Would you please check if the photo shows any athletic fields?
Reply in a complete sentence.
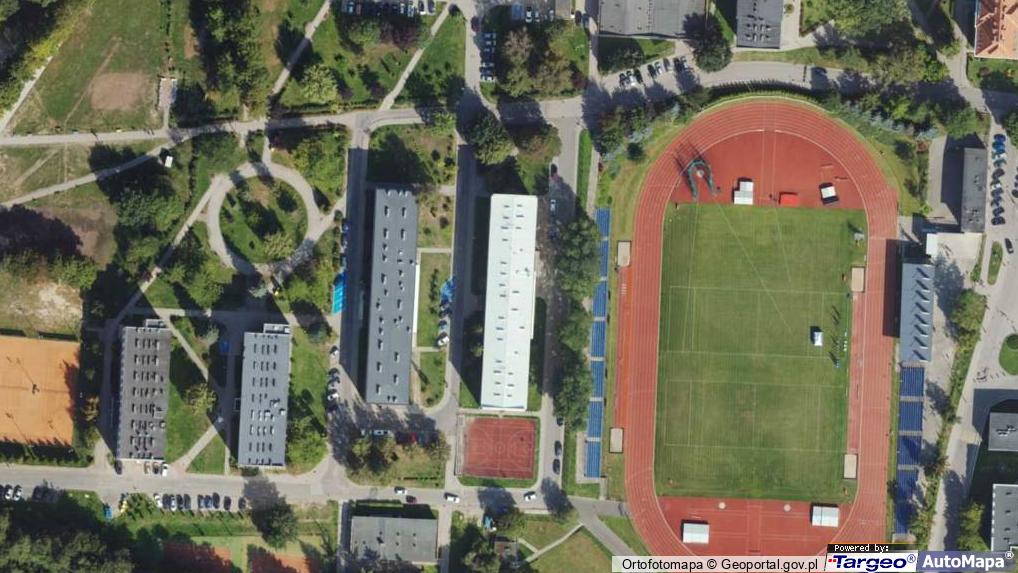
Yes, I can see an athletic field in this picture.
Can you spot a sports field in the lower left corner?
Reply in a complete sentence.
No, the scene shows no sports field in the lower left corner.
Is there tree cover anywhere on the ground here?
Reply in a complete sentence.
Yes, there is tree cover in the image.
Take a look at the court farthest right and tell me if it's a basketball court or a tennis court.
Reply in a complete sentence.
What you see as the court farthest right is a basketball court.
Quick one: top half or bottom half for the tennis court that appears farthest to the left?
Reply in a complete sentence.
It is in the bottom half that the tennis court that appears farthest to the left appears.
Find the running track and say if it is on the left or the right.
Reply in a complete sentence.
You can find the running track on the right side of the picture.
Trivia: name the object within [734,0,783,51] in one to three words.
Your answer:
building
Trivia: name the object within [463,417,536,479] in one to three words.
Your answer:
basketball court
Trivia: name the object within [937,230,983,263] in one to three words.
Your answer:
building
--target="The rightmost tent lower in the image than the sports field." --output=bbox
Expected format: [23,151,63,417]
[812,506,838,527]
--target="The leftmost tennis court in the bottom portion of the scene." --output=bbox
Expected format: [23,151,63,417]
[0,335,80,447]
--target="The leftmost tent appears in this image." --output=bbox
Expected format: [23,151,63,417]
[683,524,709,544]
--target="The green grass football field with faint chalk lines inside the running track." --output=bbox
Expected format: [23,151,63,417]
[655,200,868,502]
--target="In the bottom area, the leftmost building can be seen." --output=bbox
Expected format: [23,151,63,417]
[115,319,171,461]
